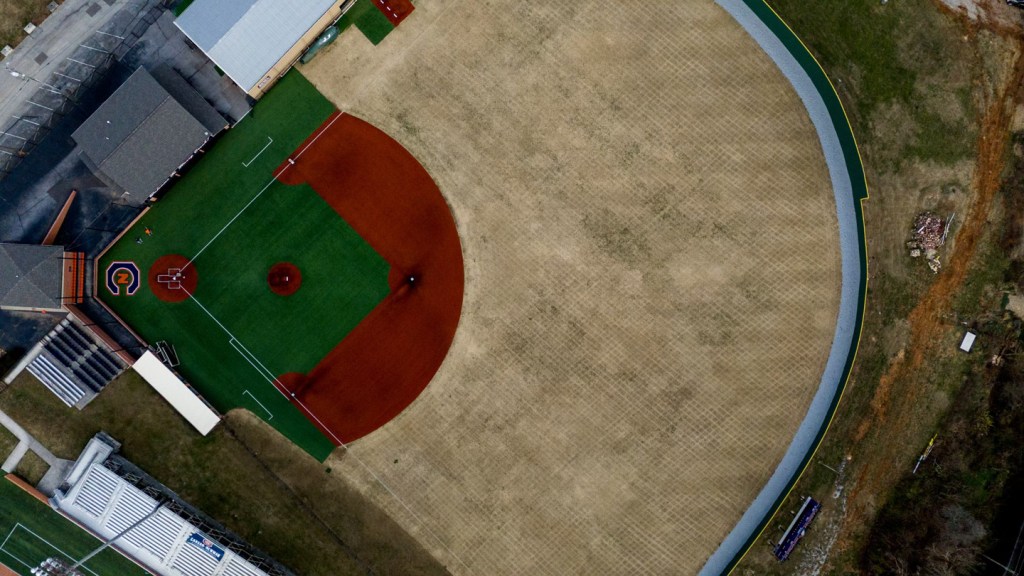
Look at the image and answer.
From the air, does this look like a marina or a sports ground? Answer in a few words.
sports ground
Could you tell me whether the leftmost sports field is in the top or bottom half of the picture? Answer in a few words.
bottom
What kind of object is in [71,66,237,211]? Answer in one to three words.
building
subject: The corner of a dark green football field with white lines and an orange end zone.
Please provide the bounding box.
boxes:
[0,472,152,576]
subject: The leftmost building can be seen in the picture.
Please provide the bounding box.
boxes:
[0,244,78,315]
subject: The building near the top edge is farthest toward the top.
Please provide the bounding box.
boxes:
[171,0,359,98]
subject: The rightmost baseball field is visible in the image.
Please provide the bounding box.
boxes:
[99,0,860,576]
